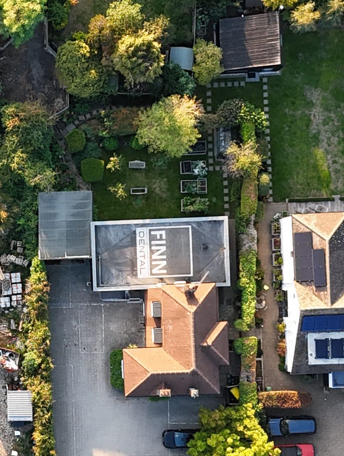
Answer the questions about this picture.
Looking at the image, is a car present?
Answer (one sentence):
Yes, the photo shows a car.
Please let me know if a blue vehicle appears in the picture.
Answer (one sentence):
Yes, there's a blue vehicle here.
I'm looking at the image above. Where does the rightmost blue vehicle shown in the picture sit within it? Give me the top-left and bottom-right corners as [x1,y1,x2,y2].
[264,414,317,439]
